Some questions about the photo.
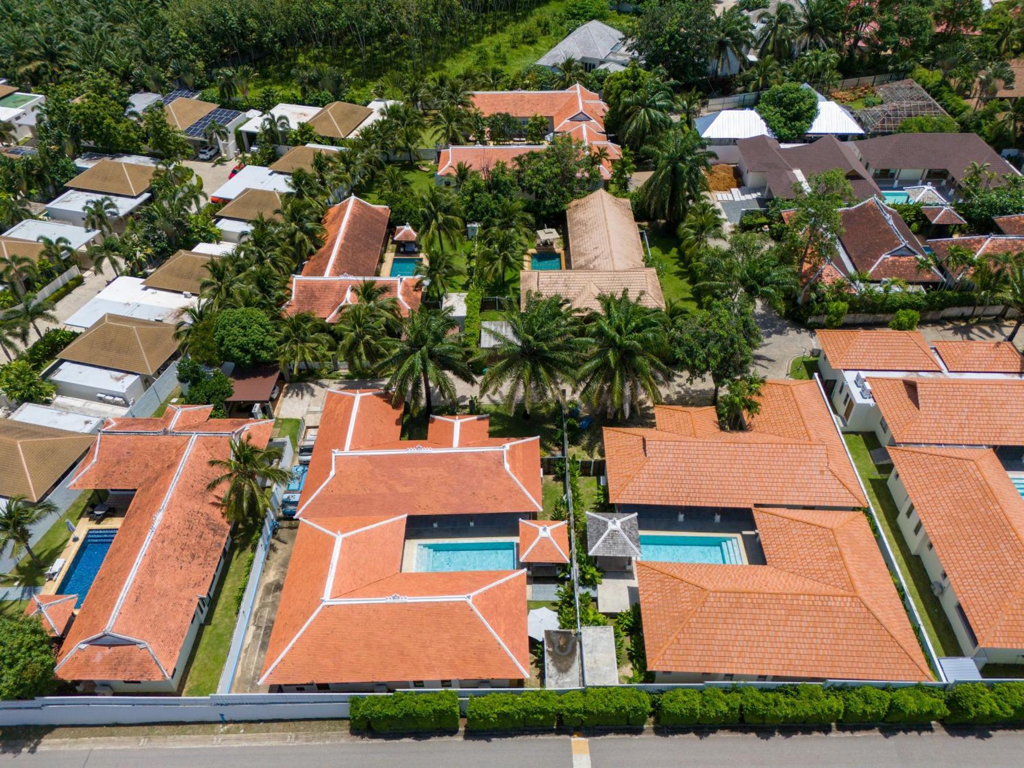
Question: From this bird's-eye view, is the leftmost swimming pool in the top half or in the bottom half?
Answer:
bottom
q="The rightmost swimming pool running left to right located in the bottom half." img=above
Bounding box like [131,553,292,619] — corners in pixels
[632,530,746,570]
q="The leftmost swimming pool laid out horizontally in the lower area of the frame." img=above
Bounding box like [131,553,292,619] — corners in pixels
[409,538,520,572]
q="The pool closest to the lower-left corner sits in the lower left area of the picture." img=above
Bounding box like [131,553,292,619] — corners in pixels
[52,526,121,614]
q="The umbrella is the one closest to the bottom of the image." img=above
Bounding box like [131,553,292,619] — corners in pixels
[527,609,559,640]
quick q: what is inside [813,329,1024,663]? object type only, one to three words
house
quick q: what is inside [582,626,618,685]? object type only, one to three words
shed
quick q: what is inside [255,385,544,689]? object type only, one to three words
house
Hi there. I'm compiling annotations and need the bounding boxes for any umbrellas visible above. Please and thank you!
[57,523,79,542]
[527,609,559,640]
